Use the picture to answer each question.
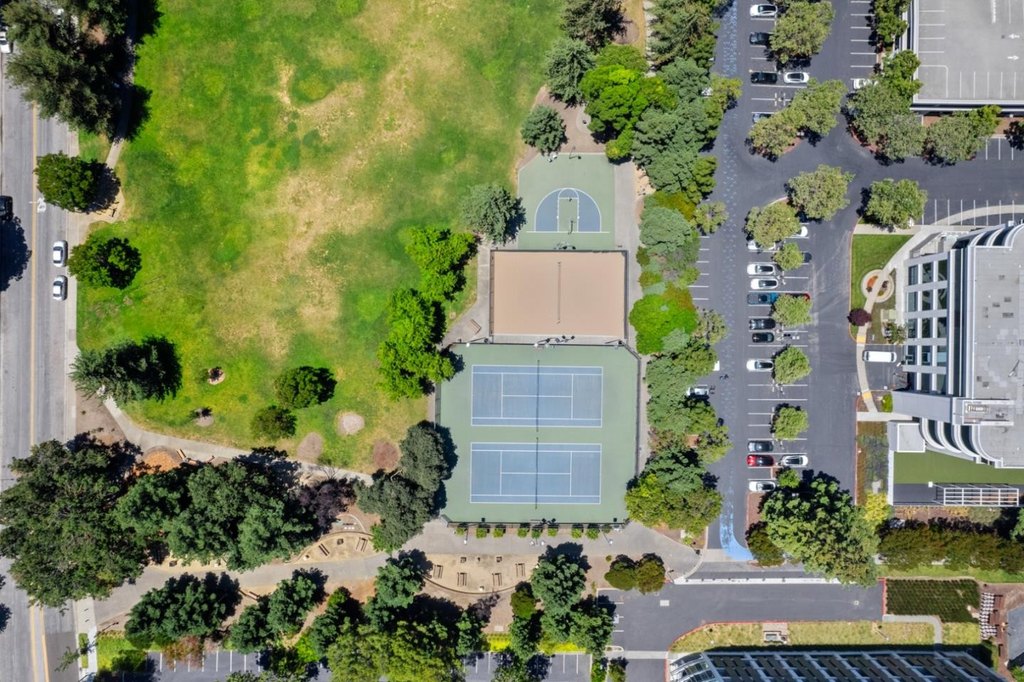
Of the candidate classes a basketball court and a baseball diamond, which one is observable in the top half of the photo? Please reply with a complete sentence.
The one visible in the top half of the photo is a basketball court.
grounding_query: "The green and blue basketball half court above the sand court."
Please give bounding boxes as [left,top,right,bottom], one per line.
[517,152,615,248]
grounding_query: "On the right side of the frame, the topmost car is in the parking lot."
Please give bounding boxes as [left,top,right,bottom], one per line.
[749,4,776,18]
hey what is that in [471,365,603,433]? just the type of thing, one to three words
tennis court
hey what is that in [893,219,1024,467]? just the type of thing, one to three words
building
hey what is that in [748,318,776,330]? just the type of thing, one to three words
vehicle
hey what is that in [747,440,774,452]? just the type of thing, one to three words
vehicle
